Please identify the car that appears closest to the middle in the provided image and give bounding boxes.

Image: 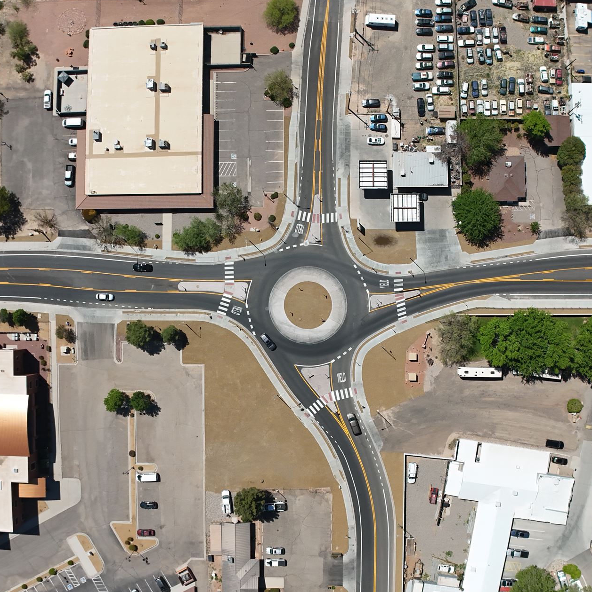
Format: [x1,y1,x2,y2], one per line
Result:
[262,334,275,349]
